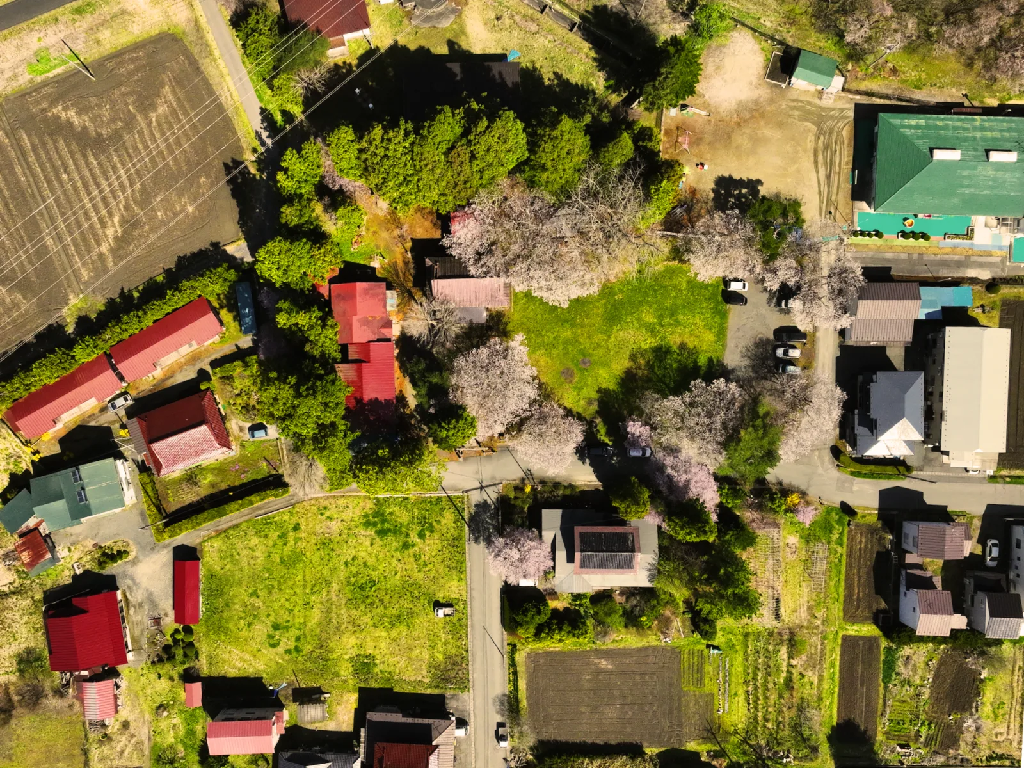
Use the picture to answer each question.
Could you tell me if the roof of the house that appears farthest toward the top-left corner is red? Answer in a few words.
Yes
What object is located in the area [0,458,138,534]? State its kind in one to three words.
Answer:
building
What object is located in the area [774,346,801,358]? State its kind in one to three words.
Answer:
vehicle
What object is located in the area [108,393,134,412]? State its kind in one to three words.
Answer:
car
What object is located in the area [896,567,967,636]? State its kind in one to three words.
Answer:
house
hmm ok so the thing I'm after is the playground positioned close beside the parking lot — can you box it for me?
[661,26,857,276]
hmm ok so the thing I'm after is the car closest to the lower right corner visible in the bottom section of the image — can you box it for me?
[983,539,998,565]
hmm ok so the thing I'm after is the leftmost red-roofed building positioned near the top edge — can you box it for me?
[282,0,371,58]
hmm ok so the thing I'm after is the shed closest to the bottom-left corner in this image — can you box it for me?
[73,676,123,720]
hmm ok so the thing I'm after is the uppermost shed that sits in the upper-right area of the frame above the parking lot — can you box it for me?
[788,50,845,95]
